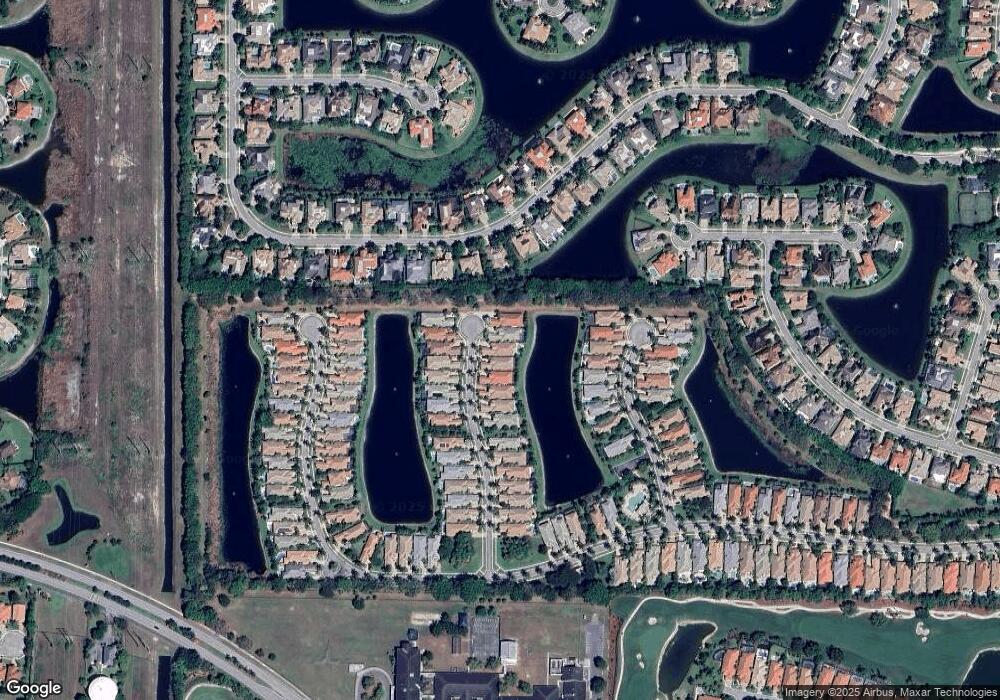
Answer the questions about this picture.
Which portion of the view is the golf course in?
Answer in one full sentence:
The golf course is in the bottom right part of the image.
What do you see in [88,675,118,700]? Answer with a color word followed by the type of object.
white water tank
